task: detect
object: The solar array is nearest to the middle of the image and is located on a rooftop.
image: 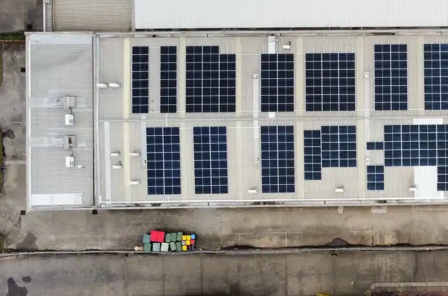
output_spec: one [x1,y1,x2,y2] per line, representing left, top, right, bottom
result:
[193,125,228,194]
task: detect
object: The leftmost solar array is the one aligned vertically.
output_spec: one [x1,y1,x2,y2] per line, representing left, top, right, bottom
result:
[131,45,148,114]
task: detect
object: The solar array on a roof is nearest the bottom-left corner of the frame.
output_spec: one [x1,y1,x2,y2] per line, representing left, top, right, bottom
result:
[145,126,181,194]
